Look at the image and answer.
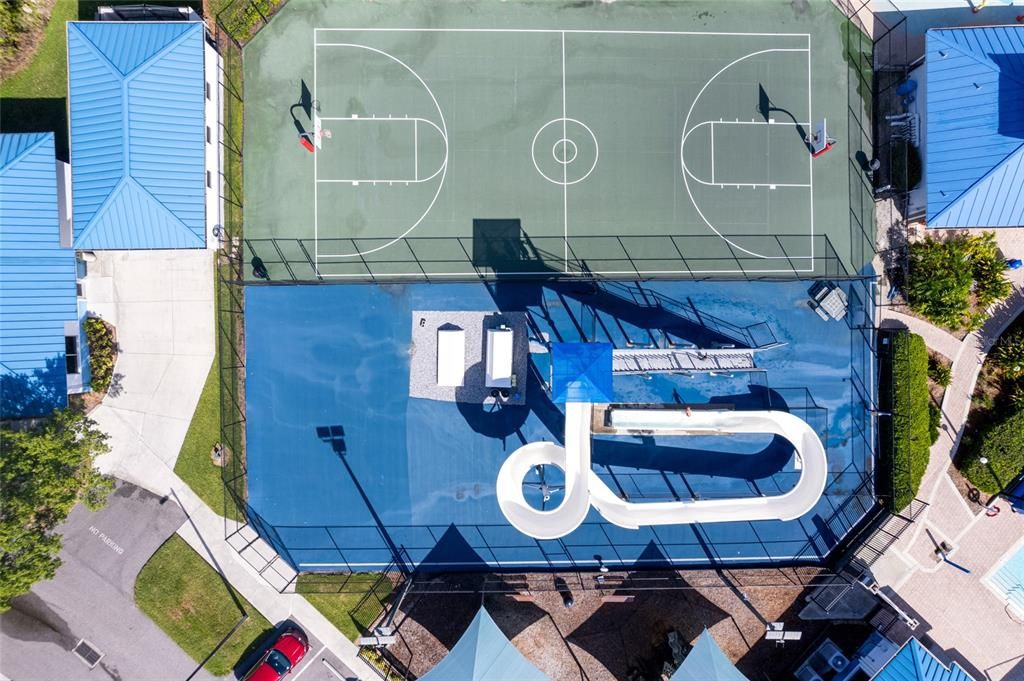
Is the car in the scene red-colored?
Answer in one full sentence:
Yes, the car is indeed red.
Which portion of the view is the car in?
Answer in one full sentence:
You can find the car in the bottom left area of the picture.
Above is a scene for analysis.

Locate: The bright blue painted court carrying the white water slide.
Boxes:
[243,263,879,574]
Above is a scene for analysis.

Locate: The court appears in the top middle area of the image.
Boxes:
[243,0,877,284]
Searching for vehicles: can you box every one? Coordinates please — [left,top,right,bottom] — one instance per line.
[240,629,311,681]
